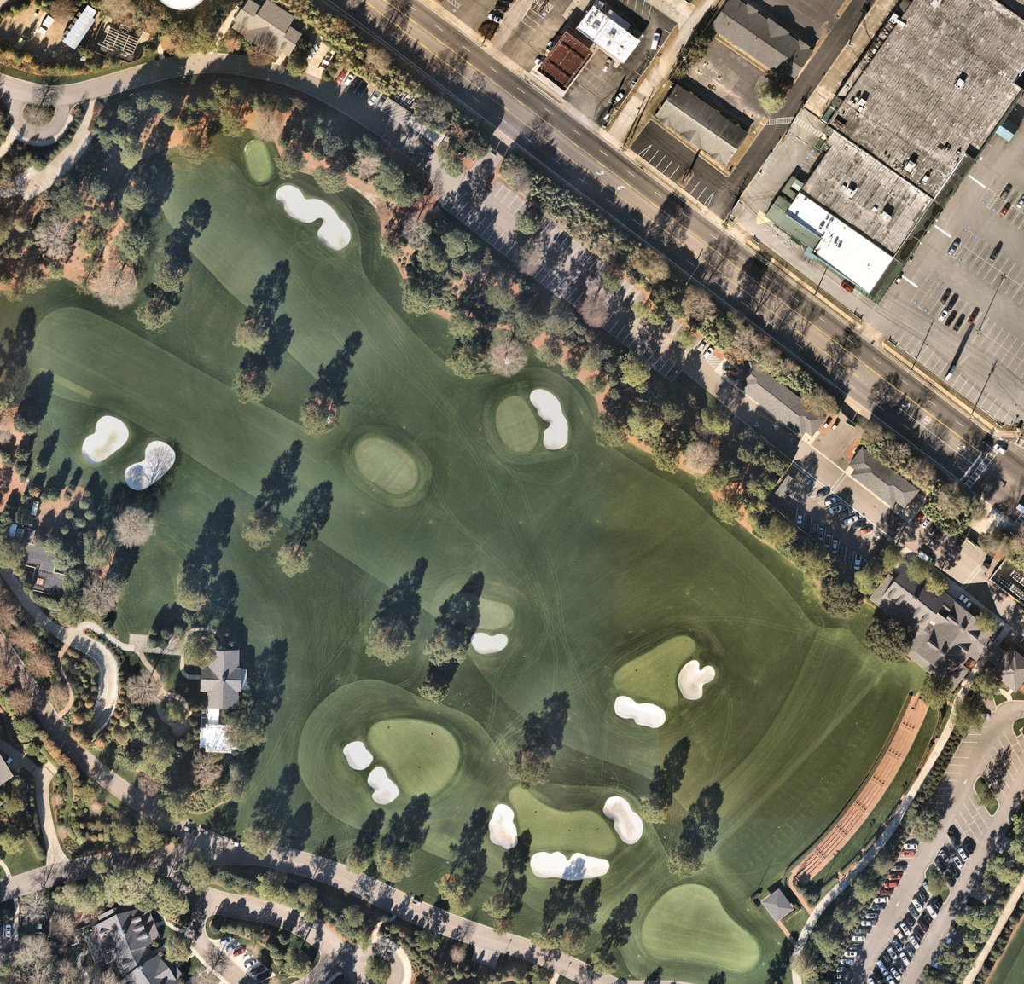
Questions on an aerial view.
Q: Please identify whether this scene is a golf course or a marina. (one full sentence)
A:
This image shows a golf course.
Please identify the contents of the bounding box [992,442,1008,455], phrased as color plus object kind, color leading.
white vehicle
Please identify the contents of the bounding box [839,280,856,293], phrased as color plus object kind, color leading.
red vehicle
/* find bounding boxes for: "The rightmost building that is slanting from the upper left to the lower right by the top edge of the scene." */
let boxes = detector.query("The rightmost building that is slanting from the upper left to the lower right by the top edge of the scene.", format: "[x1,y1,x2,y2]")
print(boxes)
[710,0,819,84]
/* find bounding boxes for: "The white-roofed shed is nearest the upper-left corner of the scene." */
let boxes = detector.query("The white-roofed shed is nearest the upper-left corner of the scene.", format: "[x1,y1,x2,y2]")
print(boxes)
[61,3,99,49]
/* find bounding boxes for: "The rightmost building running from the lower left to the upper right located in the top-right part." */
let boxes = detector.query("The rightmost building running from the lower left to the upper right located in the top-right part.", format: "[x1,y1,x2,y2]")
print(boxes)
[766,0,1024,304]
